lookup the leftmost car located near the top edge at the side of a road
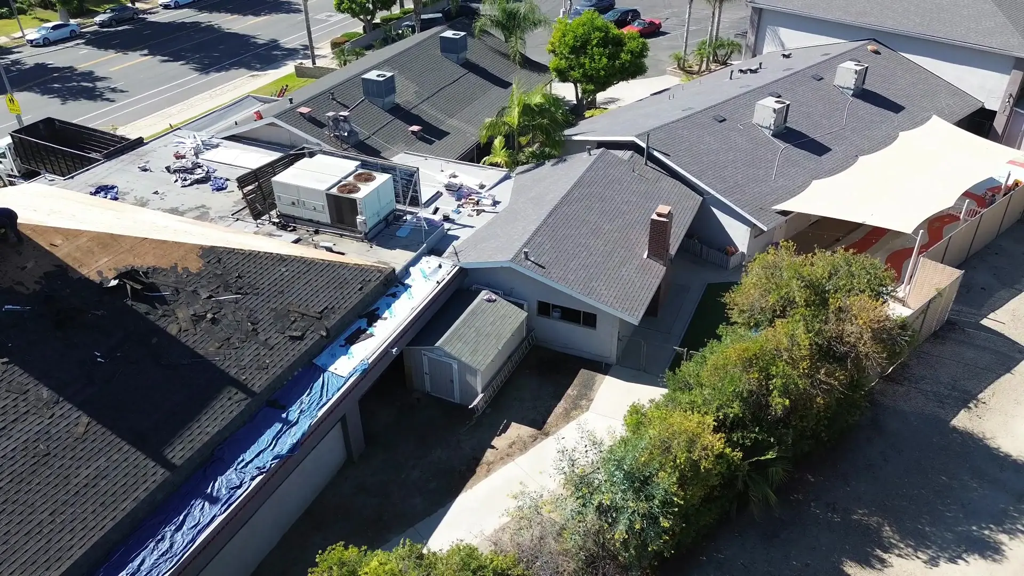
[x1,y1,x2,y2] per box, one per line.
[21,21,80,47]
